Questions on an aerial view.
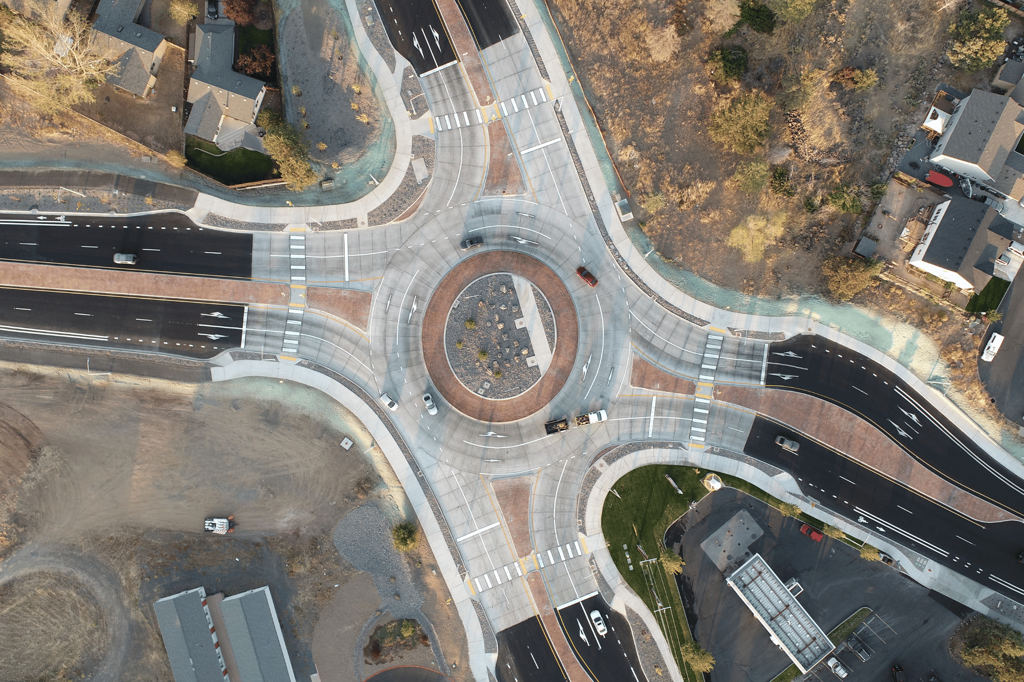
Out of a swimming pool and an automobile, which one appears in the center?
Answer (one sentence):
There is an automobile in the center.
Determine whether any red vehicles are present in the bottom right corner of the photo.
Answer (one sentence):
Yes, you'll find a red vehicle in the bottom right corner of the photo.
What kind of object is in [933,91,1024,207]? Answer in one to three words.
house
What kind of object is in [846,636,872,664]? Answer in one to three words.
truck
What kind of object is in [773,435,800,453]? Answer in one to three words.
car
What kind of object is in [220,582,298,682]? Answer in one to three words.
building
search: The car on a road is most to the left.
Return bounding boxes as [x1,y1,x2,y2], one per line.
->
[113,252,139,264]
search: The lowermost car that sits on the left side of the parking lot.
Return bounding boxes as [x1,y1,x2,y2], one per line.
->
[590,609,606,637]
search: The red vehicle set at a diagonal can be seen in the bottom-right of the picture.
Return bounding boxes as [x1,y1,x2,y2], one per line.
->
[799,523,825,543]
